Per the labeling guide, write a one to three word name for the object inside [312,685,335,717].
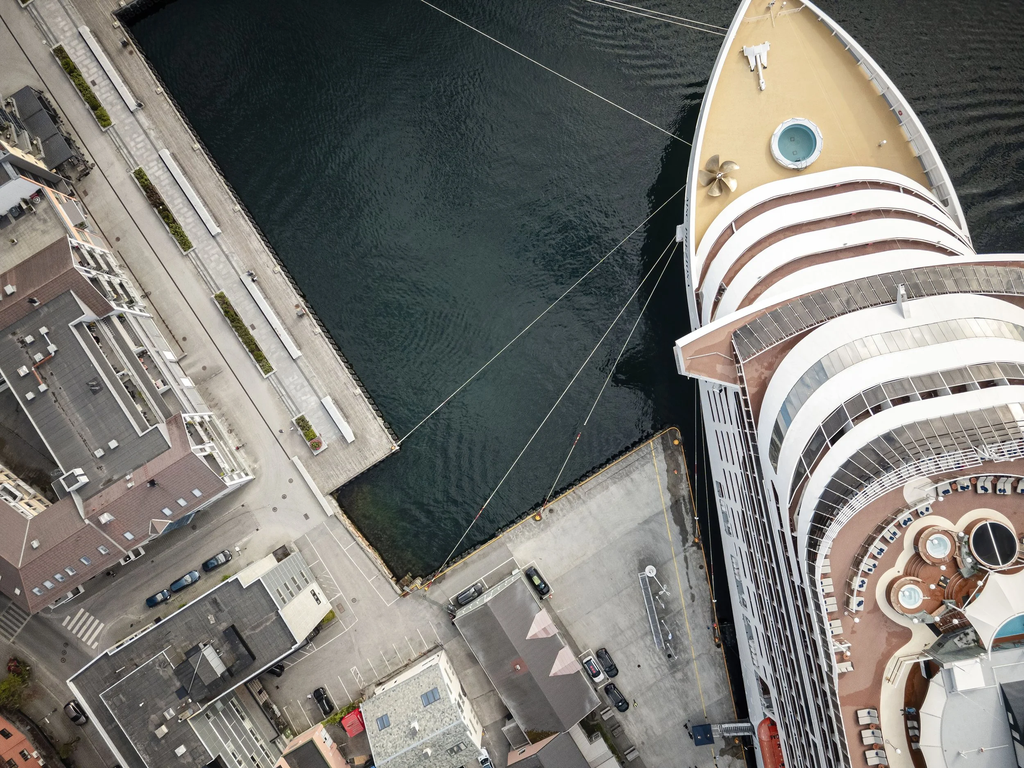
car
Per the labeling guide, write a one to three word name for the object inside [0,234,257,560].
building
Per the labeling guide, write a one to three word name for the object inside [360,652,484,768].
house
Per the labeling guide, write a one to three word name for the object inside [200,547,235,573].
car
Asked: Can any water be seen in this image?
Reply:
Yes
